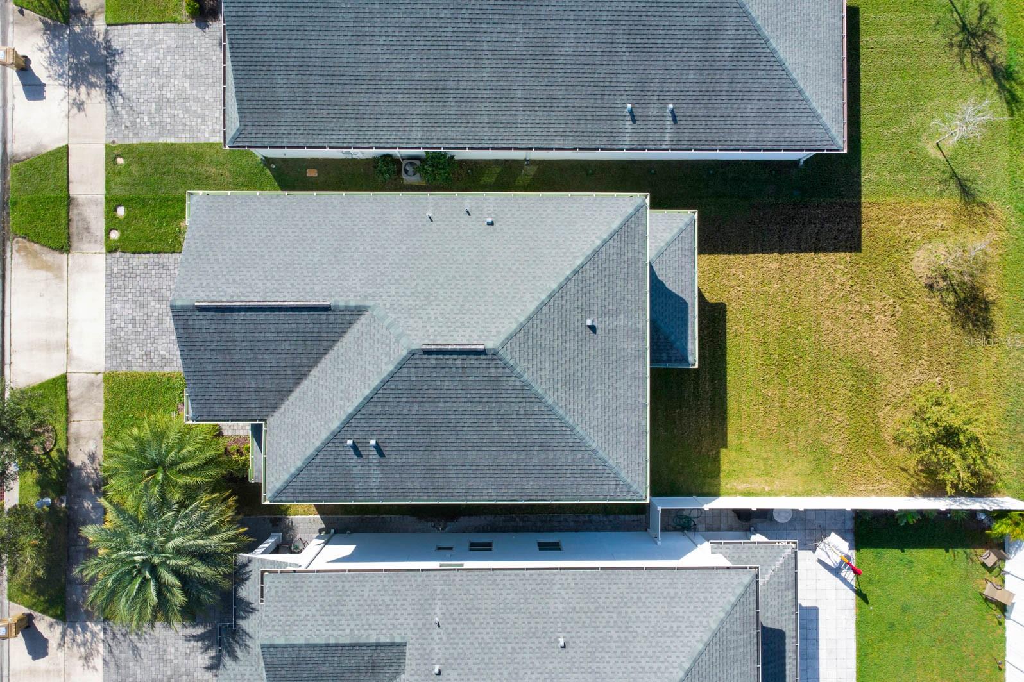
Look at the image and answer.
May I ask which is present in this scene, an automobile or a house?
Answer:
house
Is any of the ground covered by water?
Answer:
No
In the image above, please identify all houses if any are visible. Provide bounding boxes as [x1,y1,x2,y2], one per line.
[221,0,847,167]
[213,524,798,682]
[168,191,698,504]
